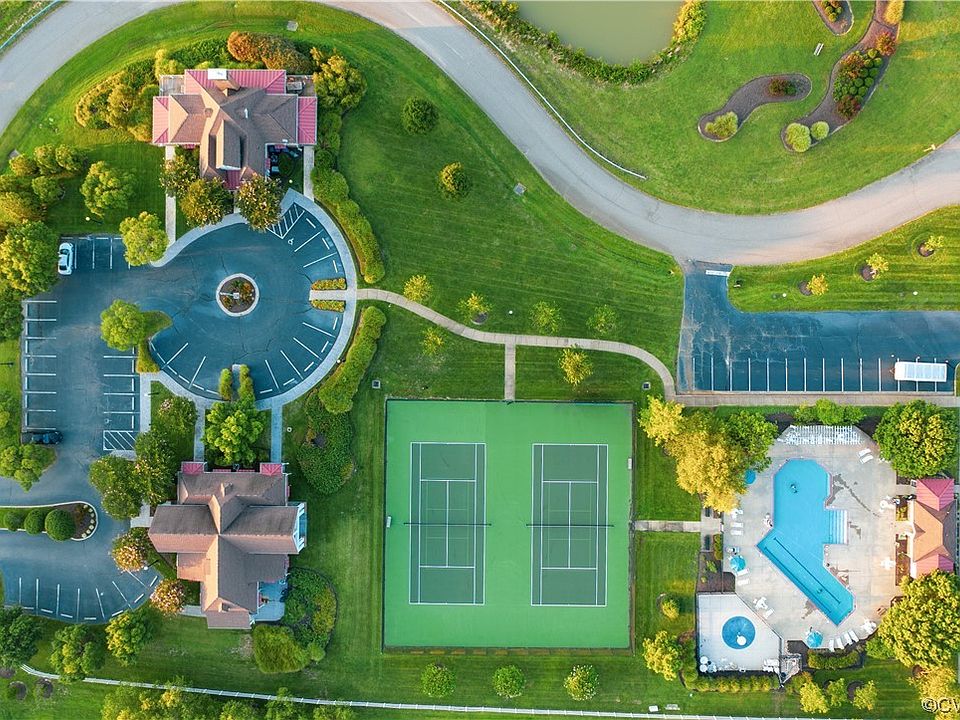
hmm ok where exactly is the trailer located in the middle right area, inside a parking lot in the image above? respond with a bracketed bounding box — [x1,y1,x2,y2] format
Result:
[878,361,948,382]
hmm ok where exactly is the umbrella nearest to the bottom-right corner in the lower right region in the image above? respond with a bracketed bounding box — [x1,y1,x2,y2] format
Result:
[804,629,821,646]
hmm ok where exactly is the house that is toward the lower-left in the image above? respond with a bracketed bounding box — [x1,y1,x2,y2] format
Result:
[146,461,308,631]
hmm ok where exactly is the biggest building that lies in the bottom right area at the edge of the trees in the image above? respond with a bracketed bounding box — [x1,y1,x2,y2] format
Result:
[908,478,956,581]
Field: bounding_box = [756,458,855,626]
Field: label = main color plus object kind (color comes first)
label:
blue swimming pool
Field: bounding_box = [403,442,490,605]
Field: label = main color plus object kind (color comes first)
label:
green tennis court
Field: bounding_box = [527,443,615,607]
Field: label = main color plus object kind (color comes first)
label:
green tennis court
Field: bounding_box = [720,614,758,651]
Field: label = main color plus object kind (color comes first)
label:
blue swimming pool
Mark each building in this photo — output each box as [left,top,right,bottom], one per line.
[908,478,956,581]
[146,461,308,631]
[152,69,320,193]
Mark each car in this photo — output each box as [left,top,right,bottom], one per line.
[59,243,77,275]
[31,430,65,445]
